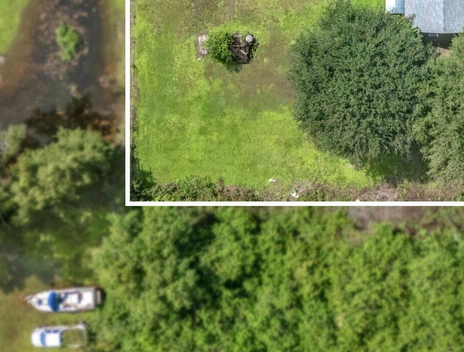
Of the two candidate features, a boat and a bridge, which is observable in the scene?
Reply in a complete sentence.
I can see a boat in this picture.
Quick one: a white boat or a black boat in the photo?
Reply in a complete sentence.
Of the two, only a white boat appears.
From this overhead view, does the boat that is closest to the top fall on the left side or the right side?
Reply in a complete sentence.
The boat that is closest to the top appears in the left half of the scene.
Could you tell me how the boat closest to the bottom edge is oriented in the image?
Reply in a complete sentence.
The boat closest to the bottom edge has been laid out horizontally relative to the frame.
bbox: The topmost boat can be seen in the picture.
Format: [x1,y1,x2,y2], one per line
[26,283,103,315]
